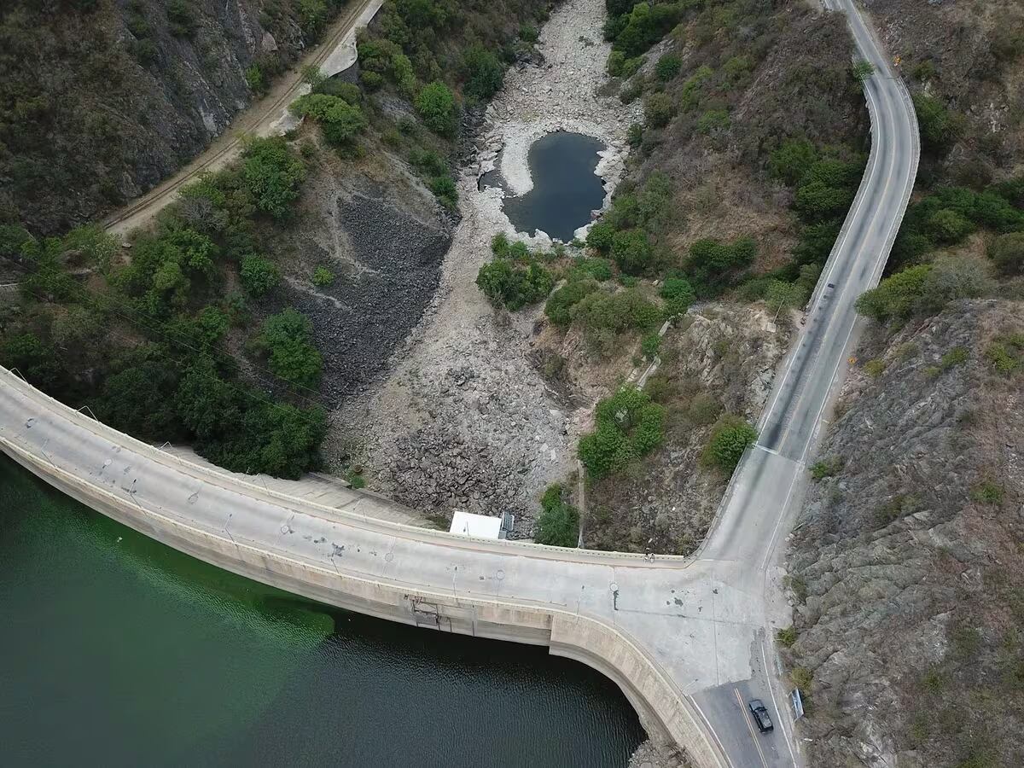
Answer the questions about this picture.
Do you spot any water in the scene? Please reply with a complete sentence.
Yes, some water is visible.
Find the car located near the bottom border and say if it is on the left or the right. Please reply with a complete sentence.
The car located near the bottom border appears in the right half of the scene.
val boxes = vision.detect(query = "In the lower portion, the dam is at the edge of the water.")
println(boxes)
[0,348,775,768]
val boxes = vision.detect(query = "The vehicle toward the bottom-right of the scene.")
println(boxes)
[749,698,774,737]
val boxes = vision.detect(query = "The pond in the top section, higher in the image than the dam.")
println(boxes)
[479,132,606,243]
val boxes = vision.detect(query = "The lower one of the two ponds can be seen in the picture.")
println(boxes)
[0,451,657,768]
